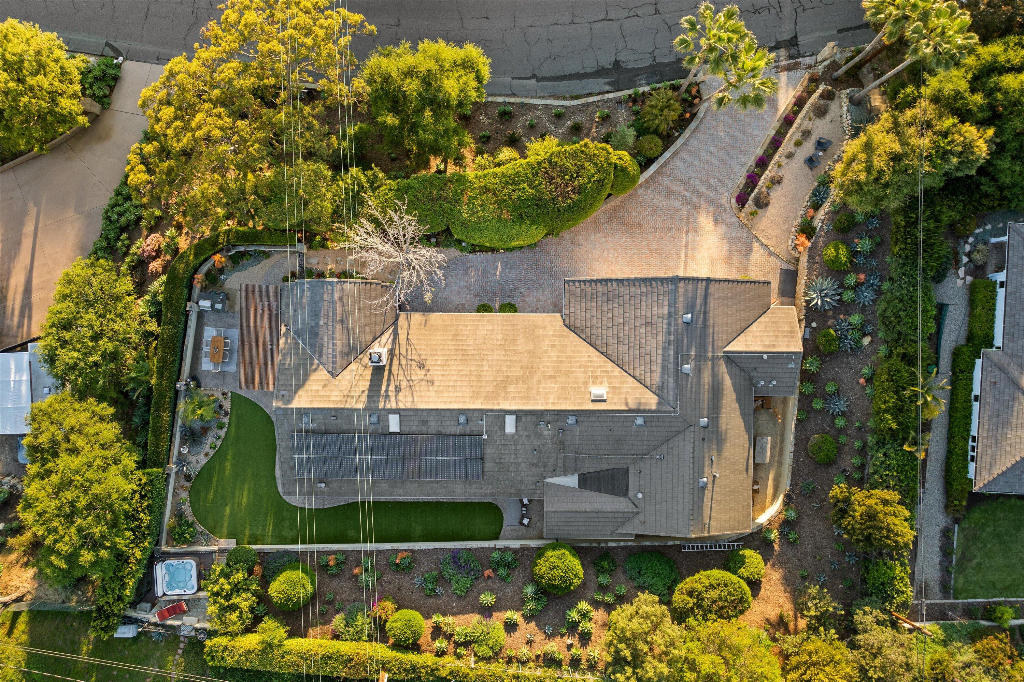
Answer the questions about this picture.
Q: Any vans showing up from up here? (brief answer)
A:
No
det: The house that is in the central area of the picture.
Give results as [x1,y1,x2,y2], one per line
[271,274,805,540]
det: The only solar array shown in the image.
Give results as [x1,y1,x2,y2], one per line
[291,434,482,480]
